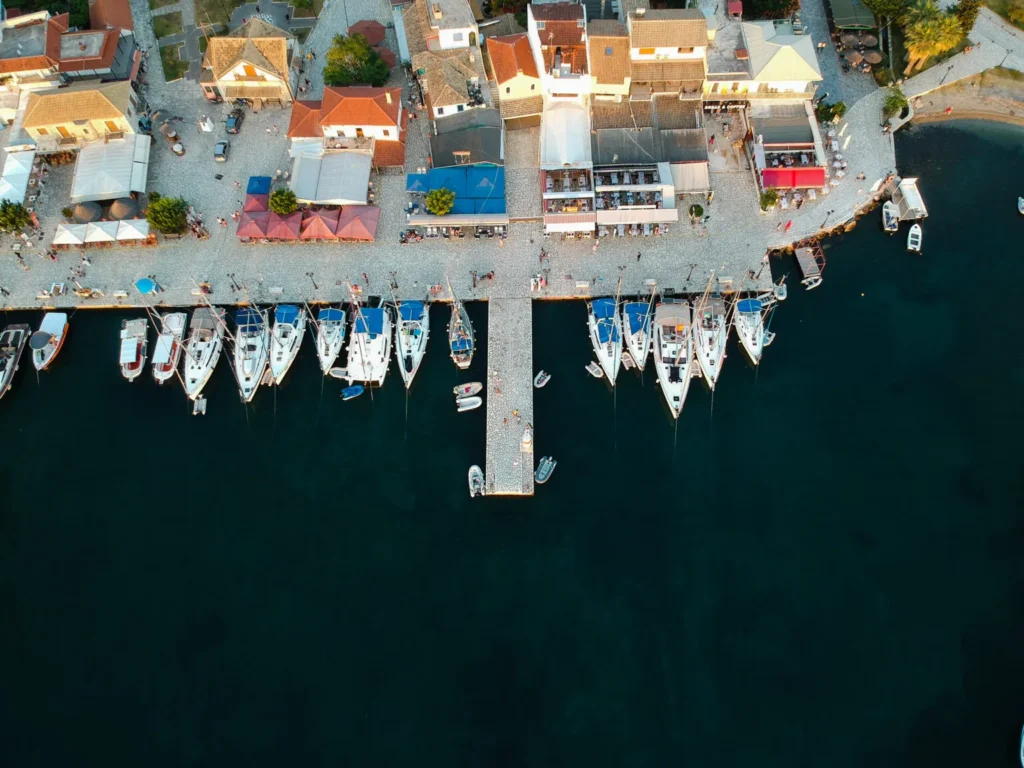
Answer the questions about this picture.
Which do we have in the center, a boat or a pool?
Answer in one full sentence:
What appears in the center is a boat.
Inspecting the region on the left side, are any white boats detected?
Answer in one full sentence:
Yes, a white boat shows up on the left side.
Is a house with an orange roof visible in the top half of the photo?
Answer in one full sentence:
Yes, there is a house with an orange roof in the top half of the photo.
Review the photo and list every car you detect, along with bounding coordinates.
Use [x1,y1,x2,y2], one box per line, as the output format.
[213,142,228,162]
[226,112,243,135]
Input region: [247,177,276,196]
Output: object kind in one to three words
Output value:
tent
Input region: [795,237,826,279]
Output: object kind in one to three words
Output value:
pier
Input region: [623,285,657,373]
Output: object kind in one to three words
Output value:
boat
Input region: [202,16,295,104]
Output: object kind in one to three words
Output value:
house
